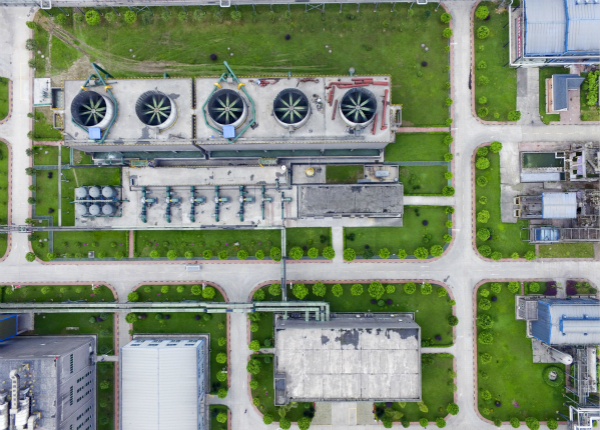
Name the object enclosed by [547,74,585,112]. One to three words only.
house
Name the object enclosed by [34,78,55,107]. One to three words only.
building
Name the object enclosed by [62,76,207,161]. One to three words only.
cooling tower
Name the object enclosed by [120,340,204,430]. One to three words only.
building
